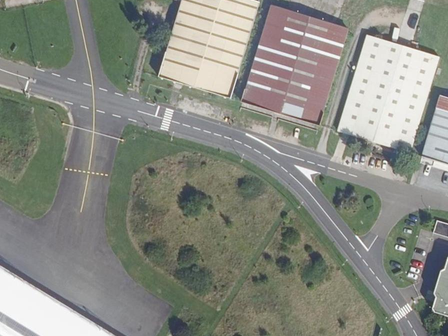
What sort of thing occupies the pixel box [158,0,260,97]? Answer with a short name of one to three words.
hangar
